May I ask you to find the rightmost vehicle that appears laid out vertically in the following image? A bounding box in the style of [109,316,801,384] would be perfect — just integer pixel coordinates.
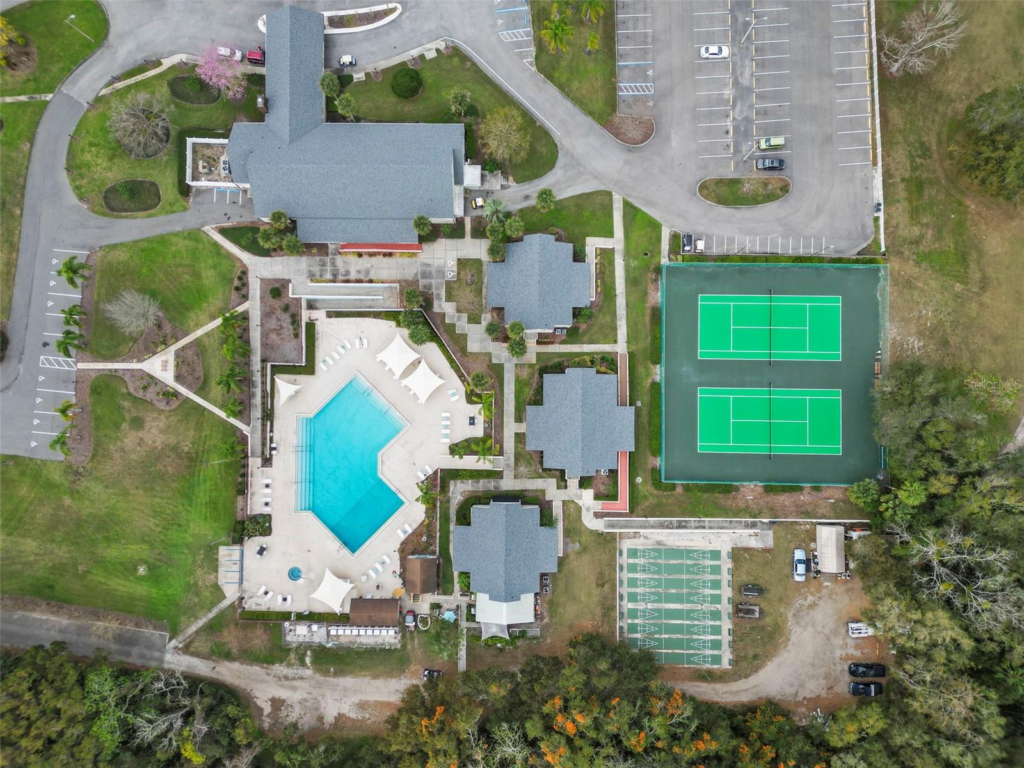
[794,551,808,581]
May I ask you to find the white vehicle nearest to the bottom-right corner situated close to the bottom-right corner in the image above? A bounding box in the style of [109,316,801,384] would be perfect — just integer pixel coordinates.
[849,623,886,639]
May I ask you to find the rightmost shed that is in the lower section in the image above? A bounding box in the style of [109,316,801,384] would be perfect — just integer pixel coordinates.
[811,524,845,582]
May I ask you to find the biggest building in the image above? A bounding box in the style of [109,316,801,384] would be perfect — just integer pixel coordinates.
[229,6,507,253]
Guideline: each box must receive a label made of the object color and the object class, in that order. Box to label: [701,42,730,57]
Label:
white car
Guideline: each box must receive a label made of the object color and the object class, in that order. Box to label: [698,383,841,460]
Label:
green tennis court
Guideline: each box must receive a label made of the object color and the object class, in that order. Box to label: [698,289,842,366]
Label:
green tennis court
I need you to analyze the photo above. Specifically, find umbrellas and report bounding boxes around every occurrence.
[443,609,456,622]
[394,586,404,598]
